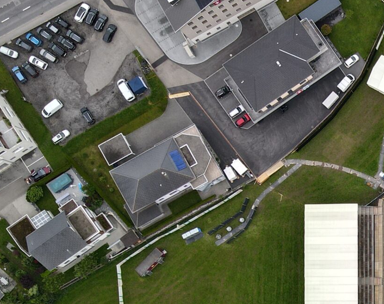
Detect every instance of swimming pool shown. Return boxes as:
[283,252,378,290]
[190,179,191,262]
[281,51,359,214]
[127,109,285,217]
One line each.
[49,172,72,190]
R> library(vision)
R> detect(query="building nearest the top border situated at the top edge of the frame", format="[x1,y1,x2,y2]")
[299,0,342,22]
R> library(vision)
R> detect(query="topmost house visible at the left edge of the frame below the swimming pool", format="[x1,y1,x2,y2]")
[7,199,115,271]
